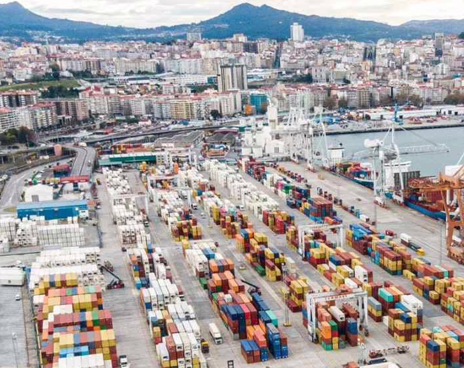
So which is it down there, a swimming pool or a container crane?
container crane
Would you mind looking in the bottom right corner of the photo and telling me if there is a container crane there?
Yes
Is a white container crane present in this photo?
Yes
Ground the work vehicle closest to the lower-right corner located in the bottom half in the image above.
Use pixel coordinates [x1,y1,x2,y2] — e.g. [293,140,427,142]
[364,343,407,362]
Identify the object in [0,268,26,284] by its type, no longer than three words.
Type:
building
